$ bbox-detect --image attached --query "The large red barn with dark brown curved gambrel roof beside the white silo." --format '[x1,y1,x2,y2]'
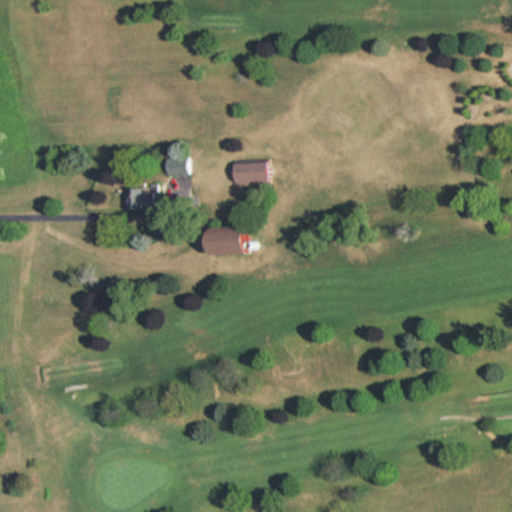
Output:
[200,229,248,254]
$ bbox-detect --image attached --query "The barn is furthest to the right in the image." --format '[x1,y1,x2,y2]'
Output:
[230,160,270,184]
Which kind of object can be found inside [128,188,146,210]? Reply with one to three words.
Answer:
house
